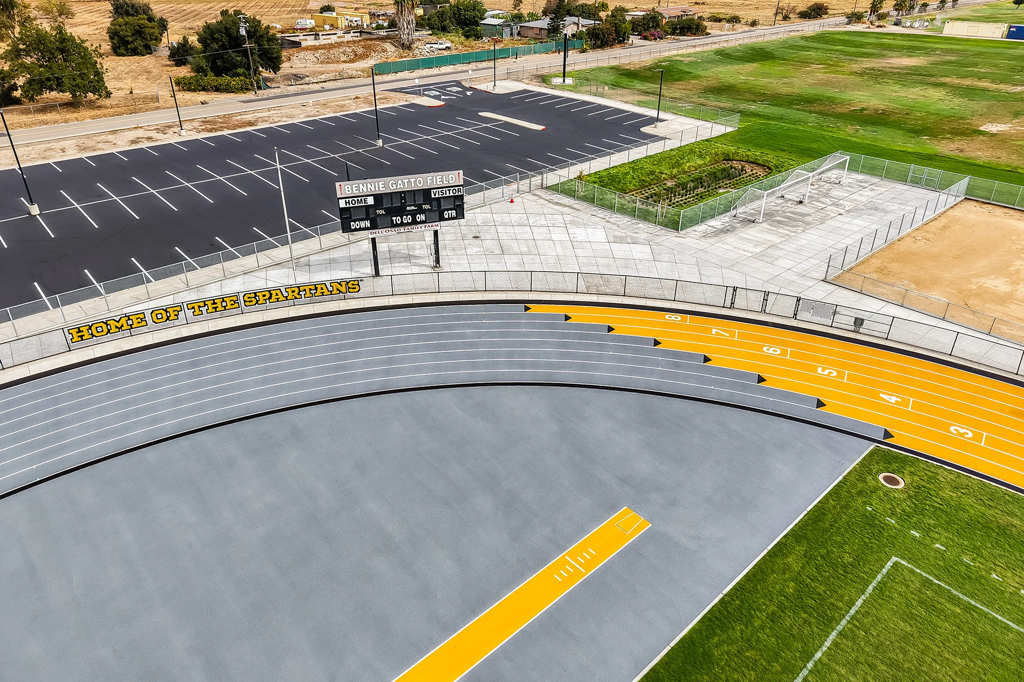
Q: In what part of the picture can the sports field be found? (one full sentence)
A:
The sports field appears toward the top right of the photo.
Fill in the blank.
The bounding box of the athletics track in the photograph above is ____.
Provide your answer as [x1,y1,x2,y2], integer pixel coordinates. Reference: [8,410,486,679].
[0,299,1024,500]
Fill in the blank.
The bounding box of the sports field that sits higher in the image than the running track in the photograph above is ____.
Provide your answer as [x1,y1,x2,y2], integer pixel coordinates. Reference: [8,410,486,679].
[539,31,1024,208]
